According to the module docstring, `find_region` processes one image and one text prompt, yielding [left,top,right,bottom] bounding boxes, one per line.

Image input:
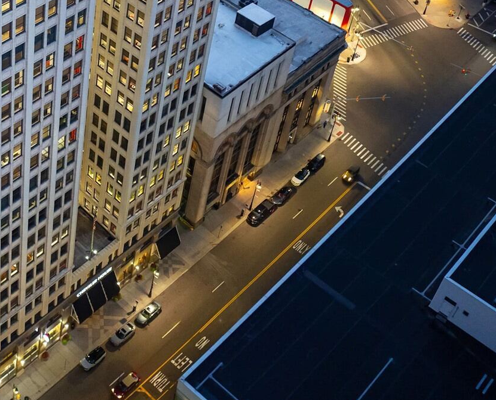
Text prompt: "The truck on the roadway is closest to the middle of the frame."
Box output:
[250,201,275,225]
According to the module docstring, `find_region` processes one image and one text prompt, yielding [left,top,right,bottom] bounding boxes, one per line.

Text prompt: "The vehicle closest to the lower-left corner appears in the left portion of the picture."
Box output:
[79,346,107,372]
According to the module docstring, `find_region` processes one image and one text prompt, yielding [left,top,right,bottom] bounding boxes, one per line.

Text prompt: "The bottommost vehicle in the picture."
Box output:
[111,370,139,398]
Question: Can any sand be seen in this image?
No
